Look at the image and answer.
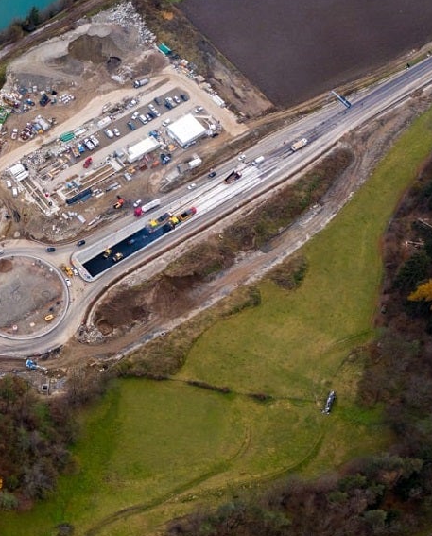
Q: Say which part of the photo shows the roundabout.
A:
left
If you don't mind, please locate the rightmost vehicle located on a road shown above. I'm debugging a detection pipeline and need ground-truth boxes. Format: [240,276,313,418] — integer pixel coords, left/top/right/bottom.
[292,136,309,149]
